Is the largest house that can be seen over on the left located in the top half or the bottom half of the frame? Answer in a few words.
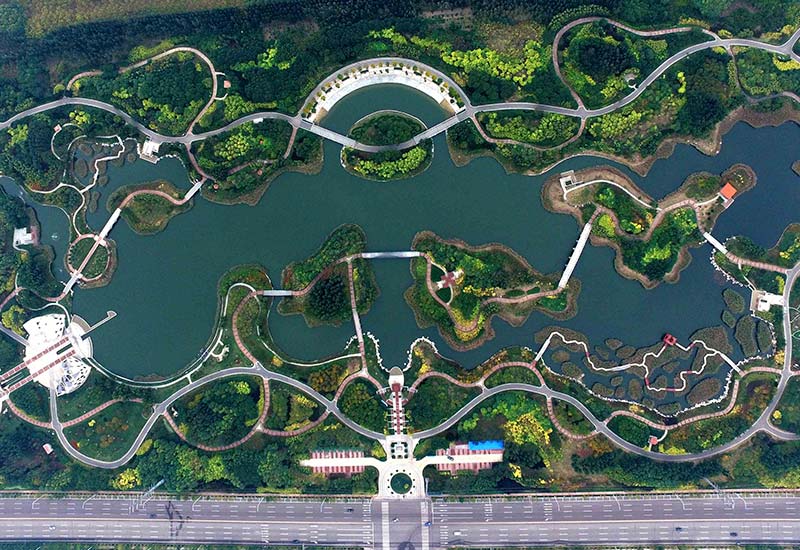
top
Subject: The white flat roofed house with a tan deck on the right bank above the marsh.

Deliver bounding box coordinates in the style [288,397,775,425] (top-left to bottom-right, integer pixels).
[750,290,784,311]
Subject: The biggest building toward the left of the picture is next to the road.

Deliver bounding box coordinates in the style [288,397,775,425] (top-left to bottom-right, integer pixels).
[140,141,162,164]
